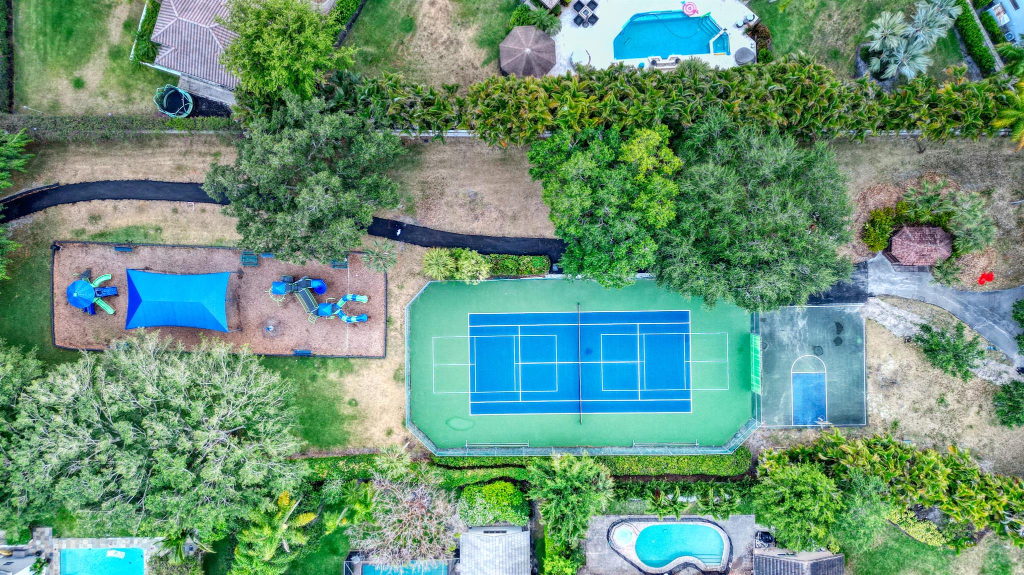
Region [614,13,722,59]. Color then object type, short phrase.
blue swimming pool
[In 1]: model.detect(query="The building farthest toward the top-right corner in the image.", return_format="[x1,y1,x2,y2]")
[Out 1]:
[880,226,953,272]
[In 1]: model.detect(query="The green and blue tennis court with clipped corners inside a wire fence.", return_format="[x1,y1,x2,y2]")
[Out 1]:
[411,279,749,448]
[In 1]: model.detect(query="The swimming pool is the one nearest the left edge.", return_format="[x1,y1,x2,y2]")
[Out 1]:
[56,545,147,575]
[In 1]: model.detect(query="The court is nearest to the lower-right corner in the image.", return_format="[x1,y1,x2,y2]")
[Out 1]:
[749,304,868,428]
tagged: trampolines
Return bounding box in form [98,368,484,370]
[153,81,197,118]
